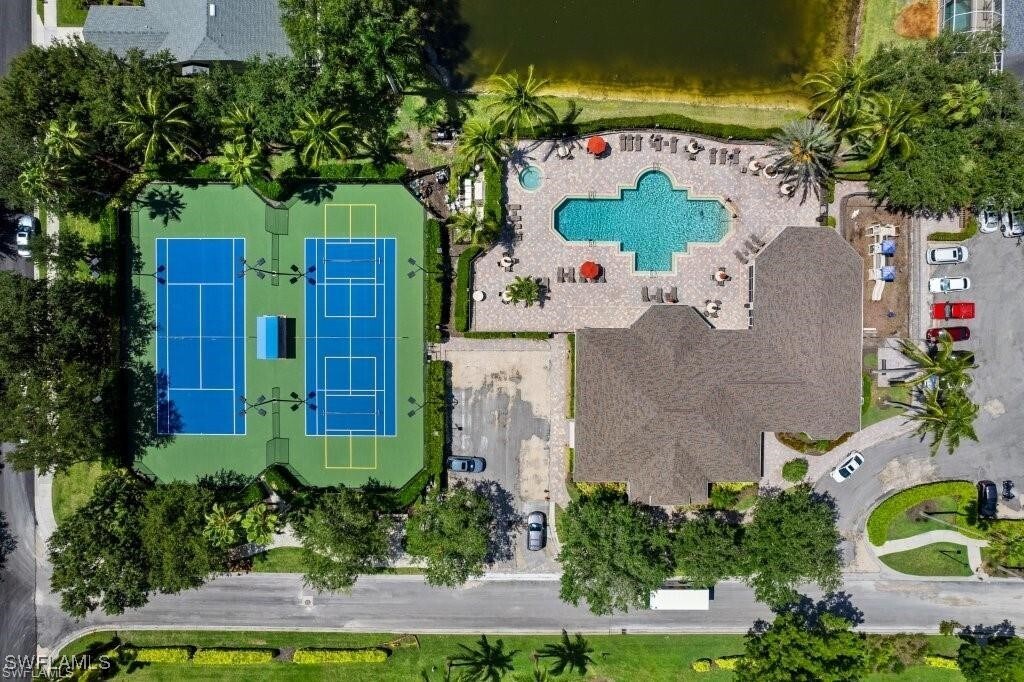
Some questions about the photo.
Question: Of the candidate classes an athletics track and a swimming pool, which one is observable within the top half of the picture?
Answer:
swimming pool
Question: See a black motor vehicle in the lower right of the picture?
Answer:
Yes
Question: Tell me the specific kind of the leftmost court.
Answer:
tennis court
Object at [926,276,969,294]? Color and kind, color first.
white car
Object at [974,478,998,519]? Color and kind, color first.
black car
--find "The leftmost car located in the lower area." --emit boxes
[447,455,486,473]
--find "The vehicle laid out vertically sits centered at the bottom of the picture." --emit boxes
[527,509,546,550]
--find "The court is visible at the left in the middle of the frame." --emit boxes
[131,183,424,488]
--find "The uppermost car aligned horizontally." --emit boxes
[925,247,968,266]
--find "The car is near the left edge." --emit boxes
[17,216,39,257]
